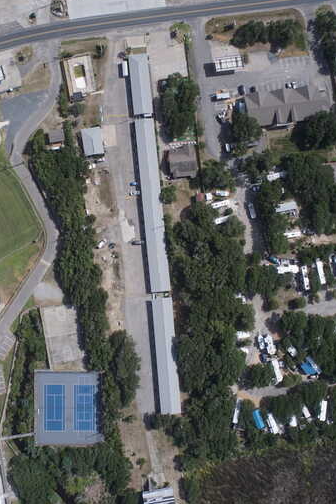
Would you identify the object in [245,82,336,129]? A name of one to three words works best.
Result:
building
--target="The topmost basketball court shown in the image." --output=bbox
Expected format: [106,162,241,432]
[41,306,84,363]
